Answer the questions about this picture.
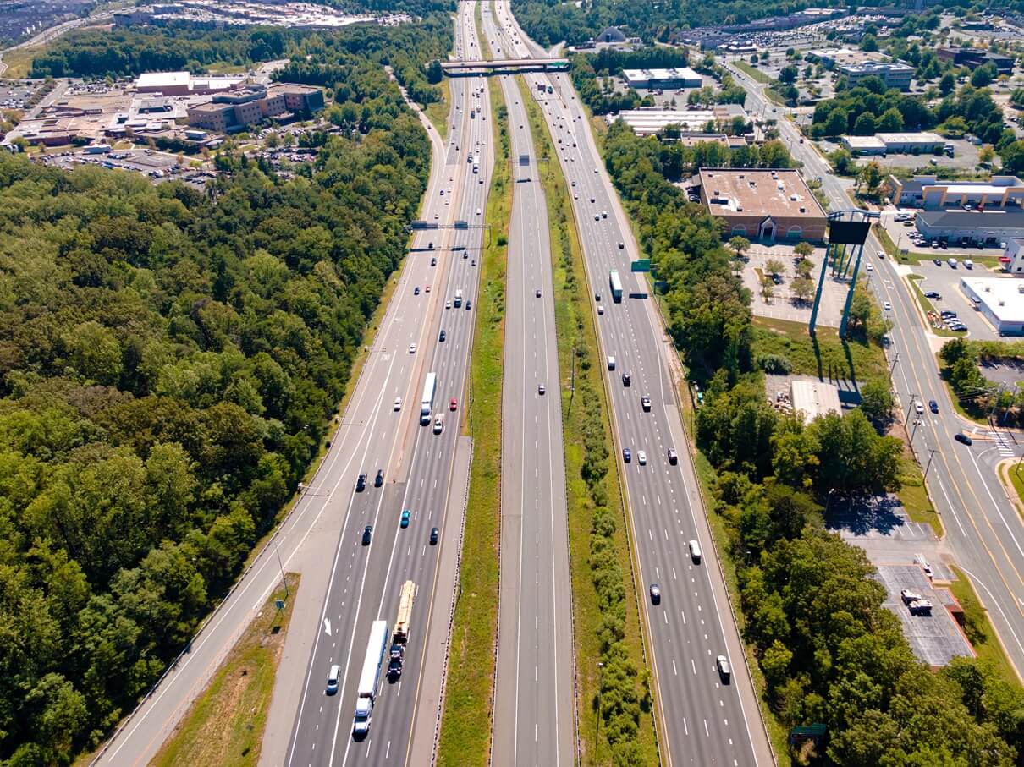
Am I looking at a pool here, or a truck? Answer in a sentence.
This aerial view contains a truck.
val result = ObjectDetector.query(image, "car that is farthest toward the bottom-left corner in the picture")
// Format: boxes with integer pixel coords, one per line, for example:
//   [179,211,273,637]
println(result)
[324,666,340,693]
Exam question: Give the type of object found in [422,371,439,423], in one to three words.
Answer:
vehicle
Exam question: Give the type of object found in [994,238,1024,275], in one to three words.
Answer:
building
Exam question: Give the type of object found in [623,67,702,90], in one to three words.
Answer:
building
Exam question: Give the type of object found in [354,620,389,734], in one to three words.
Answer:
truck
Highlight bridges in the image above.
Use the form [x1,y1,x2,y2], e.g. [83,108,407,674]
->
[449,58,573,73]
